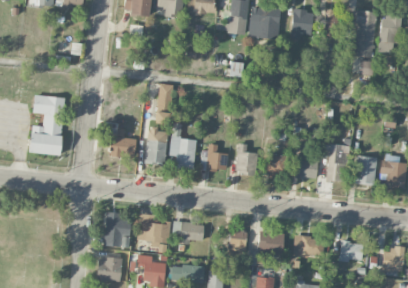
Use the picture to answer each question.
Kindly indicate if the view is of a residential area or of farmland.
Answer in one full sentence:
What you see here is a residential area.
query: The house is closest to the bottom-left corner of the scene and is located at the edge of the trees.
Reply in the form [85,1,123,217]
[98,255,124,283]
